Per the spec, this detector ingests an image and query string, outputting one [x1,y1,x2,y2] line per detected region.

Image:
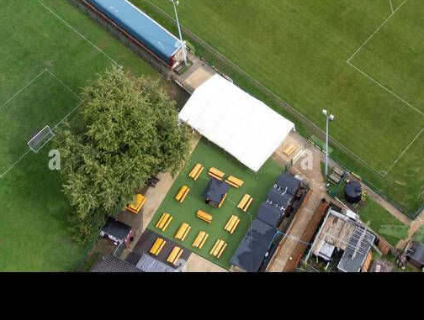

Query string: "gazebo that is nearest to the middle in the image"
[201,177,230,210]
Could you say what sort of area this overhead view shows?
sports ground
